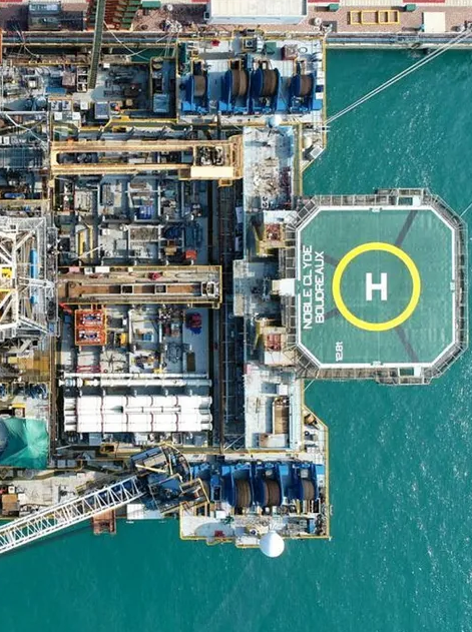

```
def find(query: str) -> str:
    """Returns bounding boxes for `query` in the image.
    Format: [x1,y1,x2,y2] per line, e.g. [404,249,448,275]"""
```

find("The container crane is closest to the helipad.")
[49,136,245,189]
